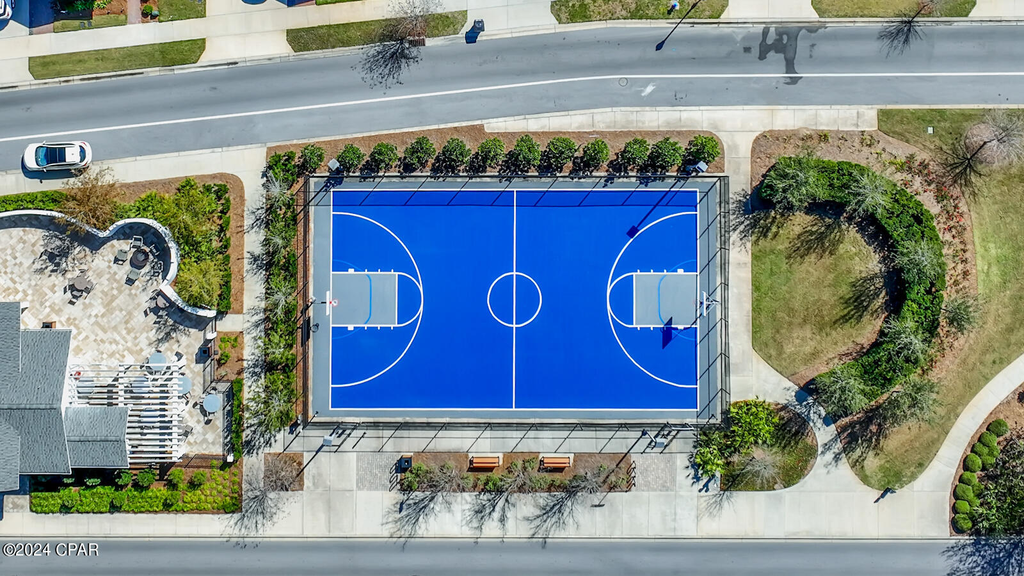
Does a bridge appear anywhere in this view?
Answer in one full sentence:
No, no bridge is visible in the view.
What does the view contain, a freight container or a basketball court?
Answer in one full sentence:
I can see a basketball court in this picture.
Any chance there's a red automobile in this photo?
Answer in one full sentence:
No, the scene contains no red automobile.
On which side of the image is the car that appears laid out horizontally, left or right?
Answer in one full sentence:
The car that appears laid out horizontally sits on the left side.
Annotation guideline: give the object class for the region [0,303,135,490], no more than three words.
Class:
building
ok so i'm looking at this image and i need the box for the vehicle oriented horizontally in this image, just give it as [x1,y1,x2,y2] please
[24,140,95,173]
